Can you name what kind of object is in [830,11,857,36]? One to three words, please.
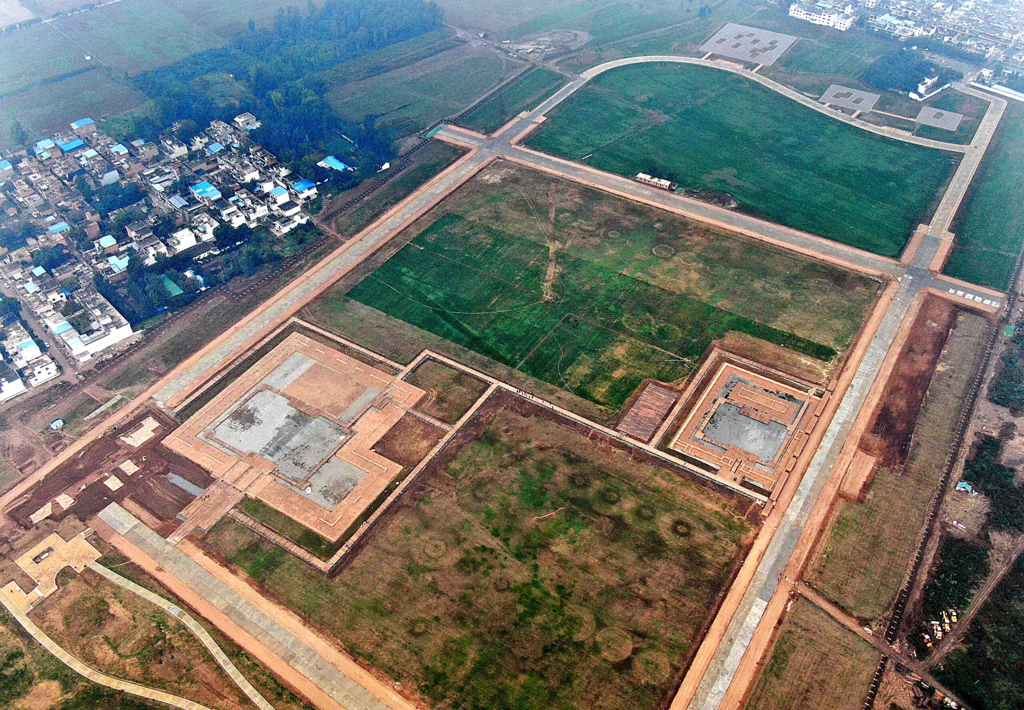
house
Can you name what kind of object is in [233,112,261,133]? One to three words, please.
house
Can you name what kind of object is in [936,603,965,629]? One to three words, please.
work vehicle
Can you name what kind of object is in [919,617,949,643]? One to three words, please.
work vehicle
